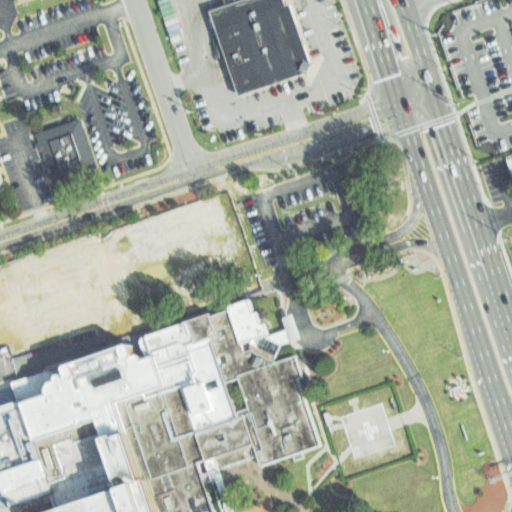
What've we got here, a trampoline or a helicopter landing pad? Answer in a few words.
helicopter landing pad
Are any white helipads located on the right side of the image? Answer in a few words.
Yes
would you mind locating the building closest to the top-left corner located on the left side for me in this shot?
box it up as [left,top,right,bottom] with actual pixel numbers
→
[38,120,100,185]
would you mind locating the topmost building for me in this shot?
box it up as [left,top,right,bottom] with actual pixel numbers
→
[209,0,310,100]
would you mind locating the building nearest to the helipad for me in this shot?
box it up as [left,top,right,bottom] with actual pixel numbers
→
[0,298,320,512]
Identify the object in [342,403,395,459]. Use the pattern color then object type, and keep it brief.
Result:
white helipad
